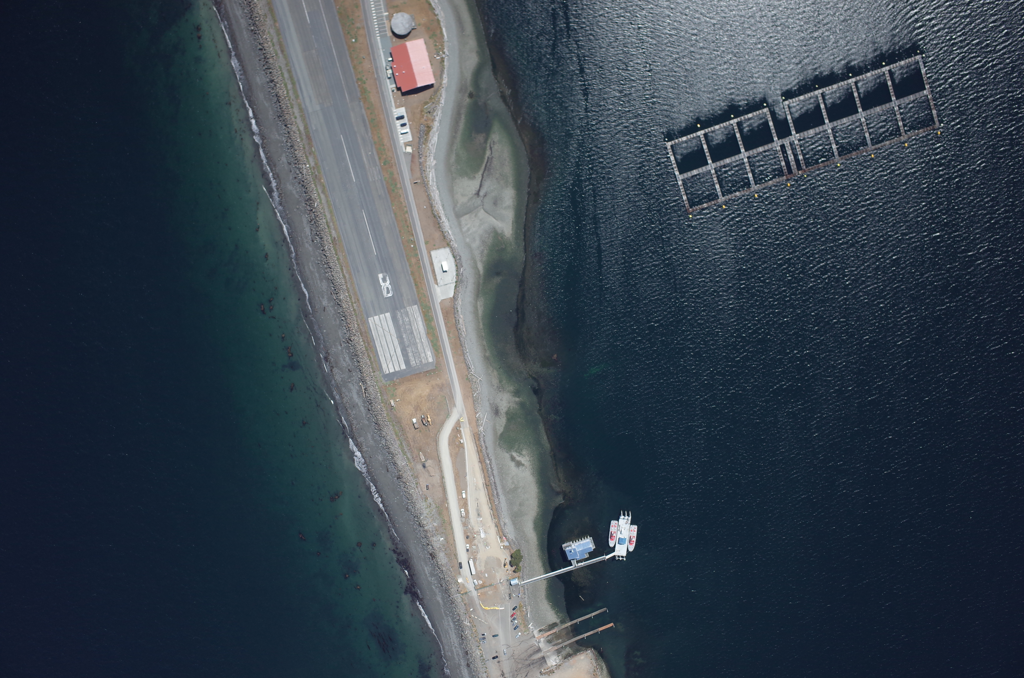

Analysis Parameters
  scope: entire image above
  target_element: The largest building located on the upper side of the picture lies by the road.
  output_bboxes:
[391,38,435,92]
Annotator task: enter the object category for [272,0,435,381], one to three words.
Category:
runway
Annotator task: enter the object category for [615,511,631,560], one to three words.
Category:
ship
